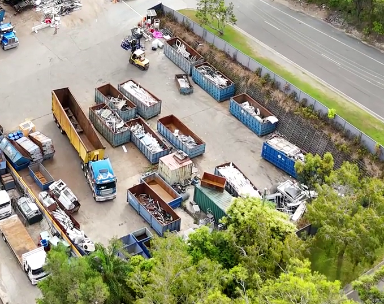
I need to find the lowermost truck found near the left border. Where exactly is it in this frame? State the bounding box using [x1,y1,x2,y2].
[0,211,50,283]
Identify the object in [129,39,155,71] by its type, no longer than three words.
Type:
work vehicle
